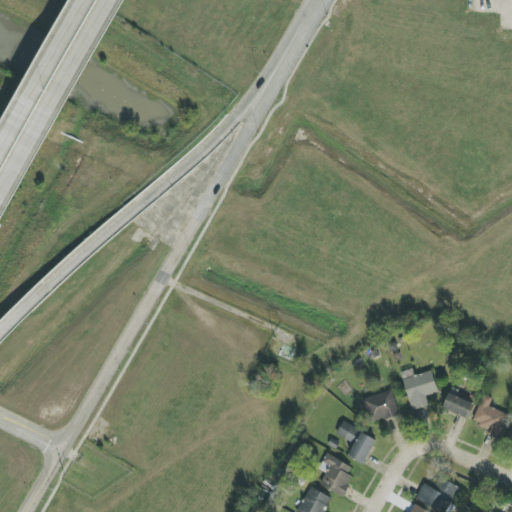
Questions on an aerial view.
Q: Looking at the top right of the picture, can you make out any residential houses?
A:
No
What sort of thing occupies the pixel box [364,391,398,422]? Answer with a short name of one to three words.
house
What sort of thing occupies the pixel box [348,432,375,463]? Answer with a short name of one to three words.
house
